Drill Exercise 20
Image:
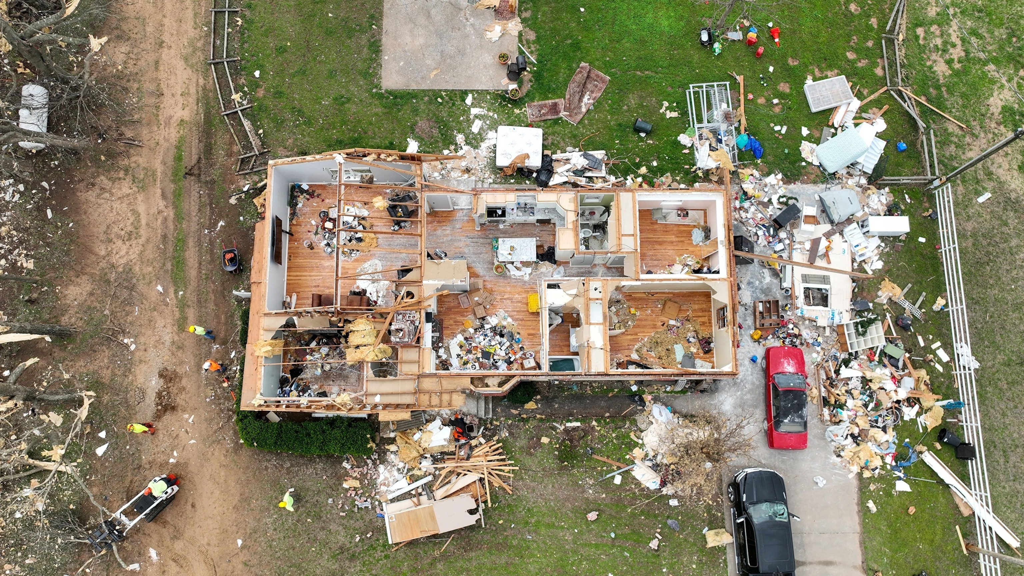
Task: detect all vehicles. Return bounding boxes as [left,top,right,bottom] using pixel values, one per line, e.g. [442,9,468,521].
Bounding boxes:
[730,461,801,576]
[760,345,812,451]
[94,468,183,552]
